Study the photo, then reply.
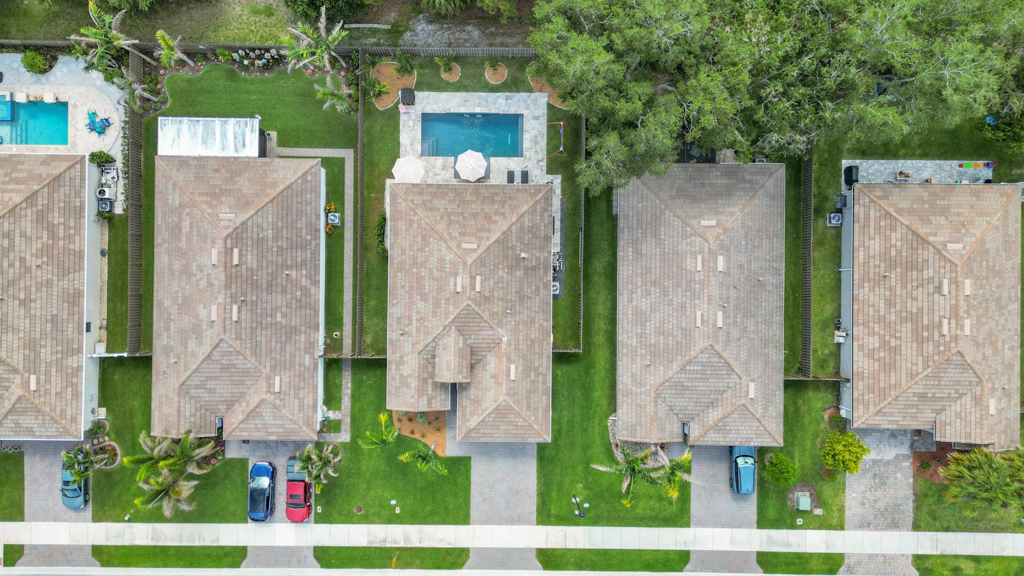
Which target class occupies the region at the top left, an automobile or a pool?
pool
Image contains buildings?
Yes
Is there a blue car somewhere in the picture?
Yes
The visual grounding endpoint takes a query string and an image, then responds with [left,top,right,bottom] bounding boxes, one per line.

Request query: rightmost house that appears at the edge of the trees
[834,182,1024,450]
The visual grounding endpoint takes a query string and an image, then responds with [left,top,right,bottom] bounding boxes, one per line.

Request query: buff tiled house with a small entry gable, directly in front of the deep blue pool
[385,182,554,443]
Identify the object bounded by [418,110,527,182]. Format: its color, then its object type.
blue swimming pool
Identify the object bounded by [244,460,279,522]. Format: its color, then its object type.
blue car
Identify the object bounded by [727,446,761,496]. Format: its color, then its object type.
blue car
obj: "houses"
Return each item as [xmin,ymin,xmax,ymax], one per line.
[611,162,789,447]
[0,154,107,441]
[834,182,1024,450]
[385,182,554,443]
[151,155,328,441]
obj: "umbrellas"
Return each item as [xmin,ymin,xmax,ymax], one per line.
[393,154,425,182]
[455,150,488,182]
